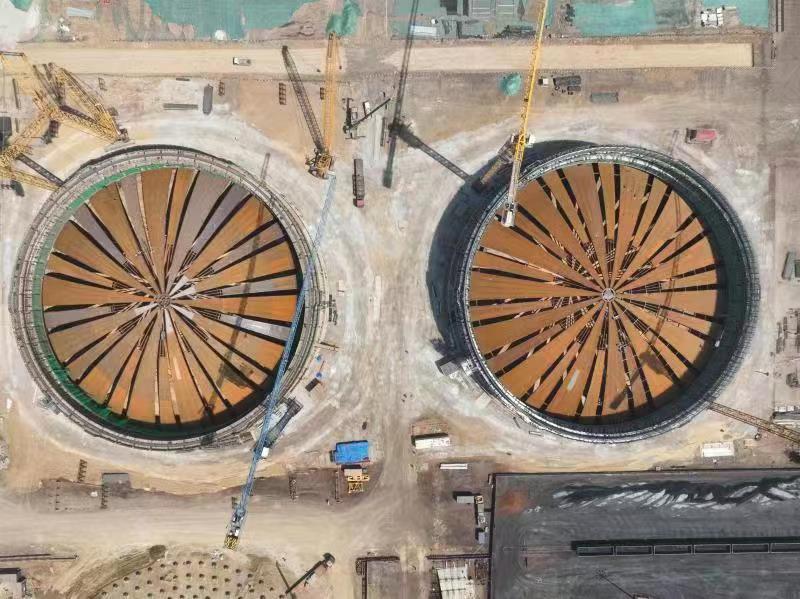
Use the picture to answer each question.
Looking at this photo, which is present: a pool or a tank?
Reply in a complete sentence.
Of the two, only a tank appears.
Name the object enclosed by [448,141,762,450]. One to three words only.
storage tank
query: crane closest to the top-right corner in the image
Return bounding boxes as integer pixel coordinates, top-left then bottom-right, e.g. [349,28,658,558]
[477,0,548,218]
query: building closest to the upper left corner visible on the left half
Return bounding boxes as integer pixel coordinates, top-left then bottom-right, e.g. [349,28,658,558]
[68,8,100,21]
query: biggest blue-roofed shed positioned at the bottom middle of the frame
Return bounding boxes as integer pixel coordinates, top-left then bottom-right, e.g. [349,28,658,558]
[334,439,369,462]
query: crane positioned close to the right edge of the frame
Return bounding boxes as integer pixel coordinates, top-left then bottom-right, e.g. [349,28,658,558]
[705,401,800,442]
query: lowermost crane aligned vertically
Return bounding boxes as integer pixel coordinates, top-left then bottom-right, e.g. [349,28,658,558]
[227,176,331,544]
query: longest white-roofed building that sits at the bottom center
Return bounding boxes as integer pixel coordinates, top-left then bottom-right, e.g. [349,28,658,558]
[414,433,448,447]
